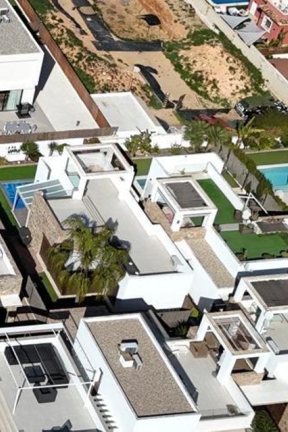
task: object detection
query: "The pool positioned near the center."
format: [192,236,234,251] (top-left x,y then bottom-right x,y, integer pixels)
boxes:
[132,174,157,188]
